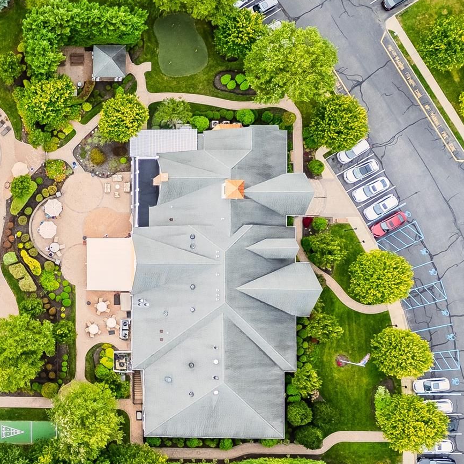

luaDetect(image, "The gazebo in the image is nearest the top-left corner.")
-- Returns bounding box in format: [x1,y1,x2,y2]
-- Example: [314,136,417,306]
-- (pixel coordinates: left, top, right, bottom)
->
[89,45,126,84]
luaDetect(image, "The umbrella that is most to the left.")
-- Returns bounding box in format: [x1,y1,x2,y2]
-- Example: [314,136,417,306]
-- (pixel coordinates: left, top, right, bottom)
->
[12,161,28,177]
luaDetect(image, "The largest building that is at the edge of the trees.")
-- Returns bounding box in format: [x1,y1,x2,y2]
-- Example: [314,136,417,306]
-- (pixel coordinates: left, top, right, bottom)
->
[85,124,324,438]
